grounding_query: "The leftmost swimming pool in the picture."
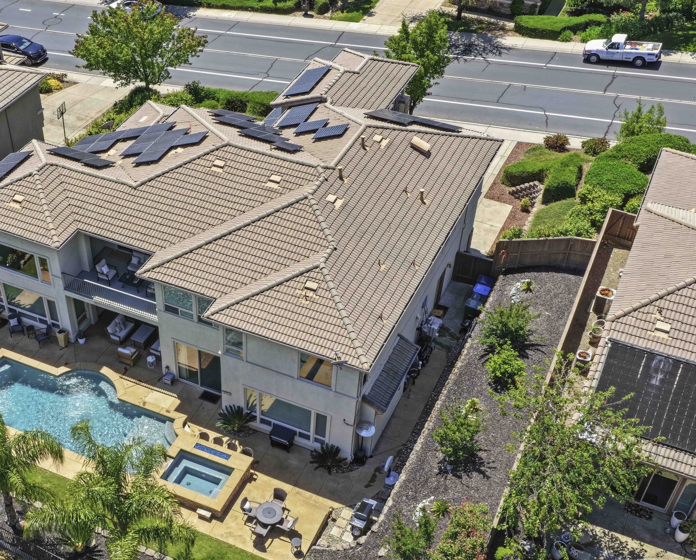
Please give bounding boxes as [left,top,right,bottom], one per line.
[0,348,188,483]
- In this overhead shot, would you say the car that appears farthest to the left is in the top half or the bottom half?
top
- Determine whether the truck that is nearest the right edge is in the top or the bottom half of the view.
top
